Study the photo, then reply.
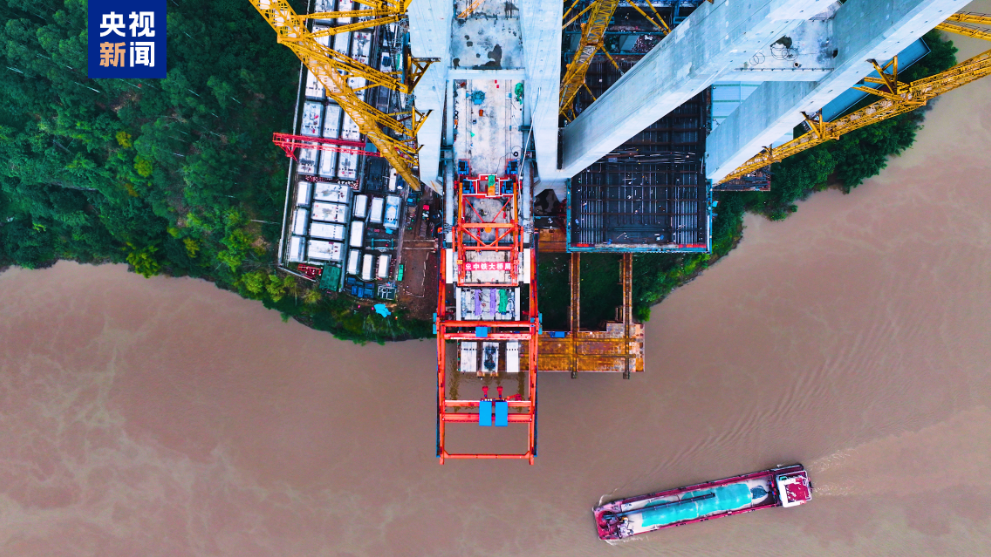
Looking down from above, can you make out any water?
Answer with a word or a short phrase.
Yes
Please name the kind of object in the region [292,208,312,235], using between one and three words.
building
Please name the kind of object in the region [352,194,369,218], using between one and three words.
building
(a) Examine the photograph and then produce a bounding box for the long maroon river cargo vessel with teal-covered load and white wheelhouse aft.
[592,462,819,542]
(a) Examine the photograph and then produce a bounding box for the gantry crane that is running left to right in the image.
[272,132,387,160]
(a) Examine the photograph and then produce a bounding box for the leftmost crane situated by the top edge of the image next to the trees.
[231,0,438,189]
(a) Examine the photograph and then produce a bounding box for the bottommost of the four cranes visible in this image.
[453,159,524,285]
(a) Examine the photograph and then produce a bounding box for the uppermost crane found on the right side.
[560,0,687,140]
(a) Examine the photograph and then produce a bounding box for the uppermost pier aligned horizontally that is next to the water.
[458,322,646,373]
